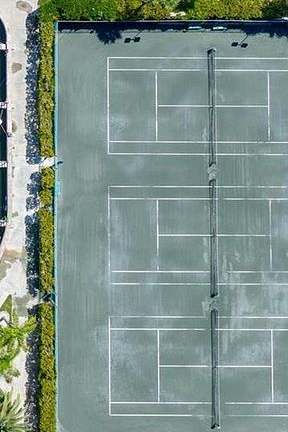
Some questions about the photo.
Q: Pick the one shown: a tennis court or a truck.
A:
tennis court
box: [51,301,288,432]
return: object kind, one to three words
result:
tennis court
